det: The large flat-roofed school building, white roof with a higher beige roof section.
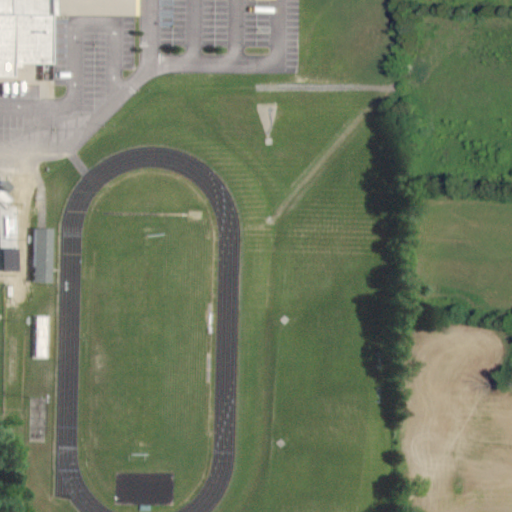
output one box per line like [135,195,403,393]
[0,0,140,76]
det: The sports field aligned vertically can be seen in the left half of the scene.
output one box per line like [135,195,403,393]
[78,168,220,512]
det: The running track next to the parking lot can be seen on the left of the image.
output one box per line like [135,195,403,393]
[55,146,242,512]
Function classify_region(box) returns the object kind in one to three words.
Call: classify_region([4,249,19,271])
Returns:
building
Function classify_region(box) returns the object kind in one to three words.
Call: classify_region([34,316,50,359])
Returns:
shed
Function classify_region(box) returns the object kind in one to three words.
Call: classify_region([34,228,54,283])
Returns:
building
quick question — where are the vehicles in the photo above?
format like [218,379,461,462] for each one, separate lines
[20,80,27,96]
[12,82,18,98]
[56,72,72,78]
[245,6,276,14]
[7,284,13,298]
[3,82,10,98]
